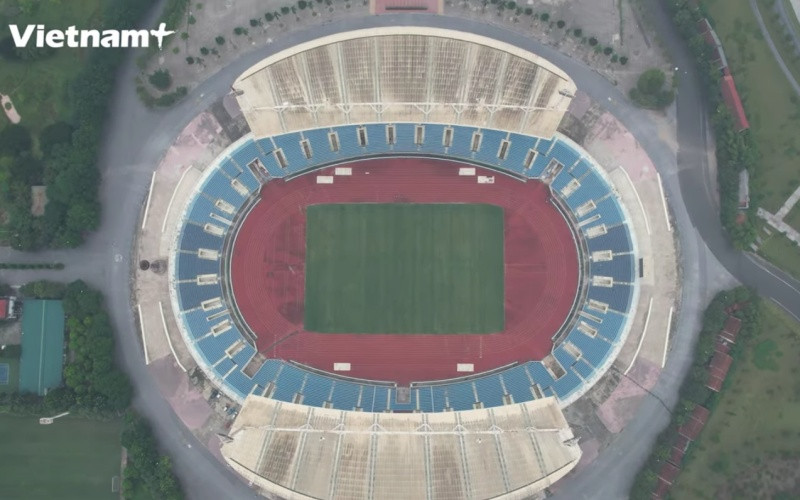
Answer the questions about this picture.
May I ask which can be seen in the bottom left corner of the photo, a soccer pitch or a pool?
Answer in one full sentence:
The feature located in the bottom left corner of the photo is a soccer pitch.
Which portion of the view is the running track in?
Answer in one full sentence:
The running track sits in the center section of the image.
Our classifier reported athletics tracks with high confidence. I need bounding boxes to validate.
[232,158,577,386]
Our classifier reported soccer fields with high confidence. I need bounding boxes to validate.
[305,203,505,334]
[0,413,126,500]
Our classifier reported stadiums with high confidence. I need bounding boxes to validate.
[169,27,641,500]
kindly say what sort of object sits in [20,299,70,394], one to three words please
building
